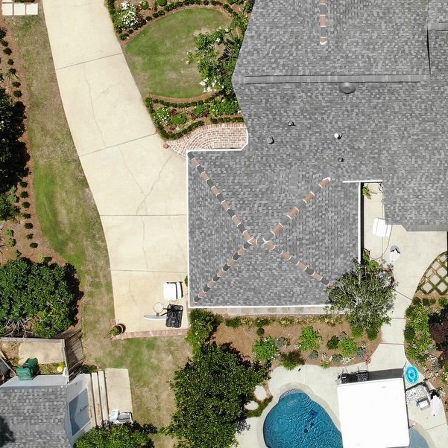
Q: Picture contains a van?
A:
No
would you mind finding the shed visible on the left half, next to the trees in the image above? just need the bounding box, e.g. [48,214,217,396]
[0,373,90,448]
